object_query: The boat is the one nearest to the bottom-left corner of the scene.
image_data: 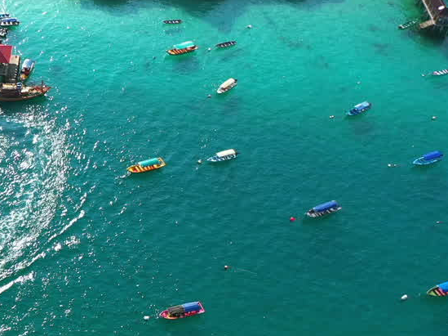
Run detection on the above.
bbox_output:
[159,299,205,318]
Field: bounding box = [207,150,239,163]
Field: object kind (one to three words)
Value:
boat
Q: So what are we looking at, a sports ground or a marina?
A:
marina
